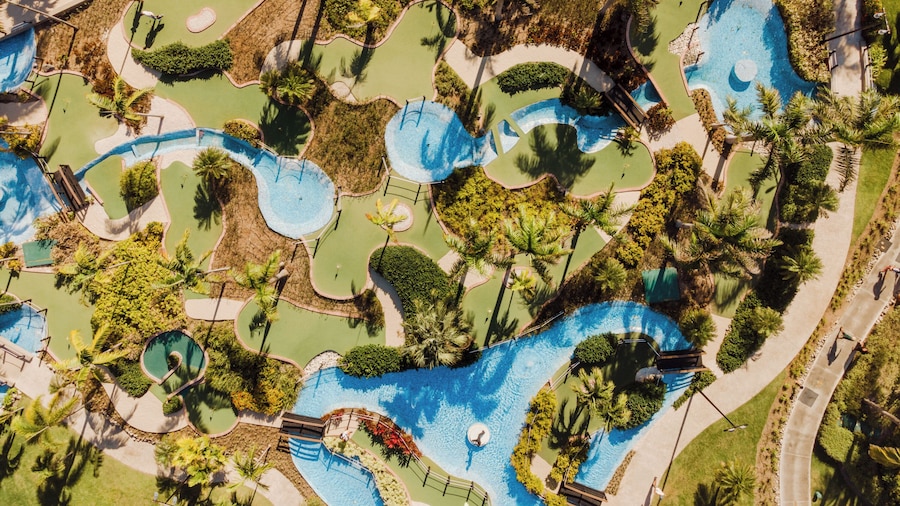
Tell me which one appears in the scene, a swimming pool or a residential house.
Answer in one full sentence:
The image shows a swimming pool.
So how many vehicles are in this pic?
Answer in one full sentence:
No vehicles are visible.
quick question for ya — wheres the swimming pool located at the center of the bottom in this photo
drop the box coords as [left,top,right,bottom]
[289,301,698,506]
